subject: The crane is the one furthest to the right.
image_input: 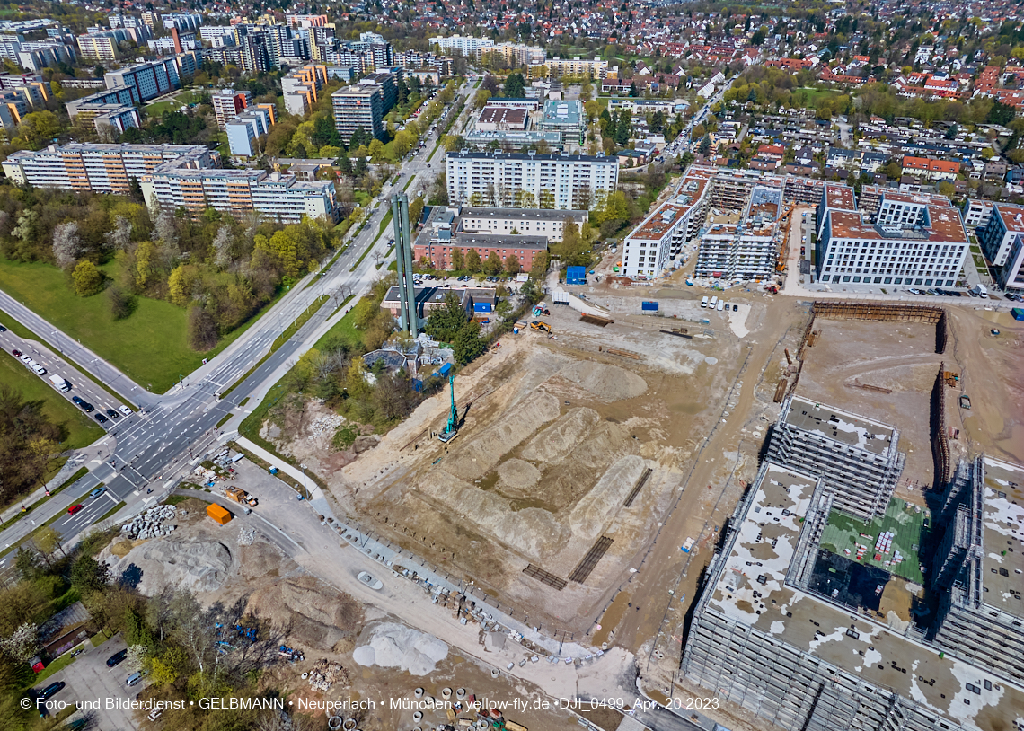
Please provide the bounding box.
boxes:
[761,193,795,268]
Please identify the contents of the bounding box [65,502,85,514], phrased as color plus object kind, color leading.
red vehicle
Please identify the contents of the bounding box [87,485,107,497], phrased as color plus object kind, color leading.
blue vehicle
